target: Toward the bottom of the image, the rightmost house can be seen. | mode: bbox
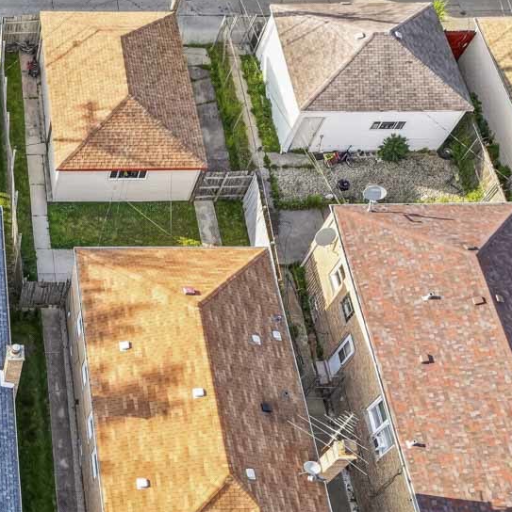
[295,202,512,512]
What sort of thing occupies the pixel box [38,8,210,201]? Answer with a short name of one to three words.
building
